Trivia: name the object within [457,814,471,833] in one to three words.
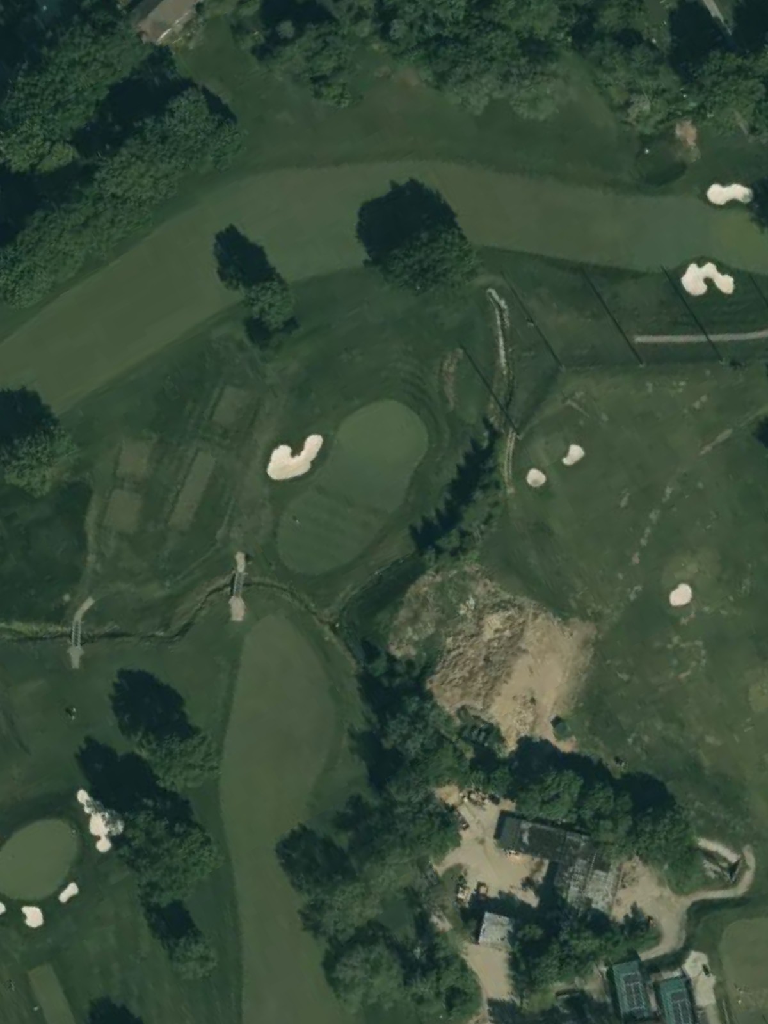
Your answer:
vehicle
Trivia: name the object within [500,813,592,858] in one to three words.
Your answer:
shed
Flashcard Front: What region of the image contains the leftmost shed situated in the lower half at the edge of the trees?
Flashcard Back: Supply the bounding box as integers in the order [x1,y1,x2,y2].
[478,911,515,950]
